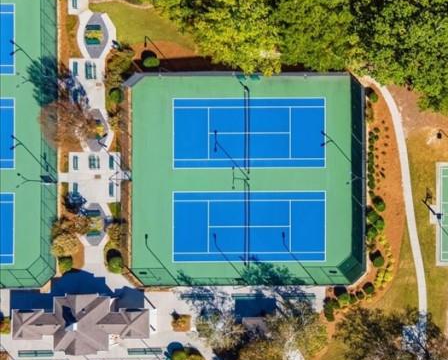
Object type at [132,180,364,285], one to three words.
tennis court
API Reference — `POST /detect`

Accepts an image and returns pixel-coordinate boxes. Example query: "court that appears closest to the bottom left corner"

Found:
[0,181,57,285]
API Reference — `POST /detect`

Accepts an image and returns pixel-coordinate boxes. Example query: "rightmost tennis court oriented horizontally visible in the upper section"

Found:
[132,74,362,180]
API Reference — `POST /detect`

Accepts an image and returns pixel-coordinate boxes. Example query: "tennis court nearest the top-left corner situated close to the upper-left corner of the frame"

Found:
[0,0,57,86]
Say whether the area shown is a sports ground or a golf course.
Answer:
sports ground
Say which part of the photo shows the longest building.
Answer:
bottom left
